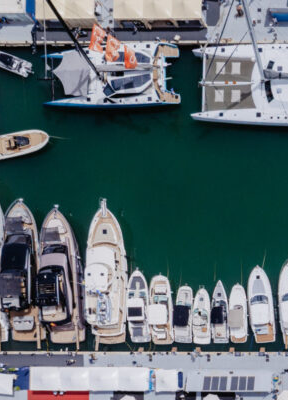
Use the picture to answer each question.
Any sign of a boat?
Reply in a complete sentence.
Yes, the frame does contain a boat.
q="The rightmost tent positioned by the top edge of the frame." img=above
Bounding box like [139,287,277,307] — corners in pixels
[173,0,208,29]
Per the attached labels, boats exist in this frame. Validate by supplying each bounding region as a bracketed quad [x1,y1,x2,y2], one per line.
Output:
[246,238,280,354]
[190,0,288,129]
[188,263,214,355]
[145,249,177,357]
[225,285,253,355]
[36,188,94,365]
[0,130,66,163]
[124,240,155,355]
[82,165,134,364]
[0,51,36,79]
[169,265,198,356]
[275,262,288,361]
[0,0,183,109]
[0,170,52,366]
[208,259,231,355]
